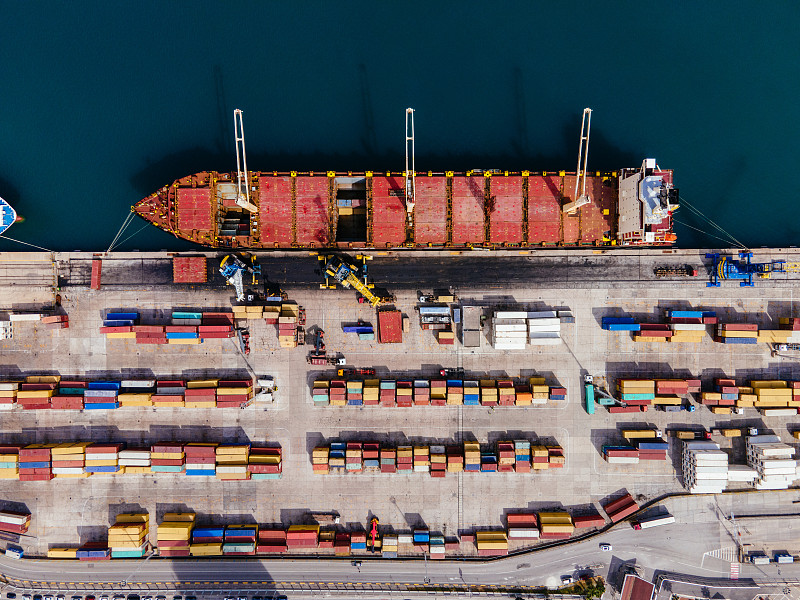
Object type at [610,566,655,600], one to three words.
house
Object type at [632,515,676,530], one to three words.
vehicle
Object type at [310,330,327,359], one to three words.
work vehicle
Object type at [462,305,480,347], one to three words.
shed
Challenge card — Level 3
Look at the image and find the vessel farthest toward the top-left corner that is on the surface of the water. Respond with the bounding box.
[0,196,27,235]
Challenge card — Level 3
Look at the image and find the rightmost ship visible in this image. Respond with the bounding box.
[129,106,680,250]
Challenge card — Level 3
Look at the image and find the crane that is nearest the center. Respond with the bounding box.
[316,254,383,309]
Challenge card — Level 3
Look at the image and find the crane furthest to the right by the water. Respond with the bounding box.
[705,253,800,287]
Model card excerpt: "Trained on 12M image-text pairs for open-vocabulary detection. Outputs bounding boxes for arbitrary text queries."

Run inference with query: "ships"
[129,106,680,250]
[0,196,27,235]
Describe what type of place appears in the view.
port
